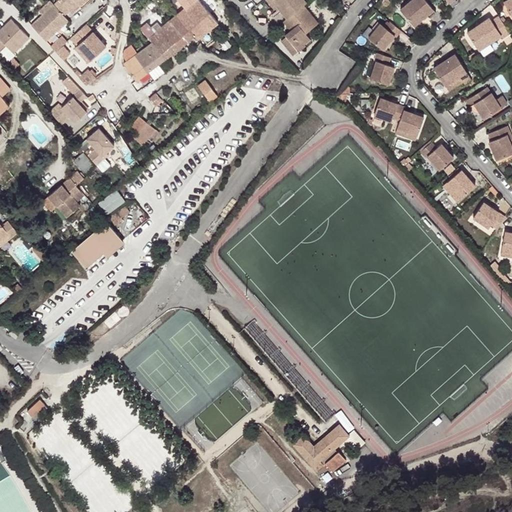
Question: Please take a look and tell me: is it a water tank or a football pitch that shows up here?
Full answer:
The image shows a football pitch.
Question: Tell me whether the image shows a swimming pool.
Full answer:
Yes, this view includes a swimming pool.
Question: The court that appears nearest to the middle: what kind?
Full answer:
The court that appears nearest to the middle can be classified as a tennis court.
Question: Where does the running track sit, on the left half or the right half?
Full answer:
The running track sits on the right side.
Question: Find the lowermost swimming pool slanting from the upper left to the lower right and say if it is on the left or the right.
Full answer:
The lowermost swimming pool slanting from the upper left to the lower right is on the left side of the image.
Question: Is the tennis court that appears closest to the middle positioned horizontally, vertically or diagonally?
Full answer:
What the image shows is the tennis court that appears closest to the middle lying diagonally.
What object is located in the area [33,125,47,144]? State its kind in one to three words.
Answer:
swimming pool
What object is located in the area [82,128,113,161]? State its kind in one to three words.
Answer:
house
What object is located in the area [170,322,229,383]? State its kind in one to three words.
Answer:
tennis court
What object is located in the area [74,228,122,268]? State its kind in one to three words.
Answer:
building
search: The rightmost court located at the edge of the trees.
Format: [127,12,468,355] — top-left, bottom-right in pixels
[230,442,299,512]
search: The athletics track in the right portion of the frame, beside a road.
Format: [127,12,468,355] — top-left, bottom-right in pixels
[210,124,512,464]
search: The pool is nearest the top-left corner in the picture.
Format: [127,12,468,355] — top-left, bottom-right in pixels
[33,68,52,87]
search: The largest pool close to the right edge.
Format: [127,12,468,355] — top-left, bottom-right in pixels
[496,74,511,94]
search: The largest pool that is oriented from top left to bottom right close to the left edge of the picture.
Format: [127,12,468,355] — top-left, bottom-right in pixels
[13,245,38,270]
